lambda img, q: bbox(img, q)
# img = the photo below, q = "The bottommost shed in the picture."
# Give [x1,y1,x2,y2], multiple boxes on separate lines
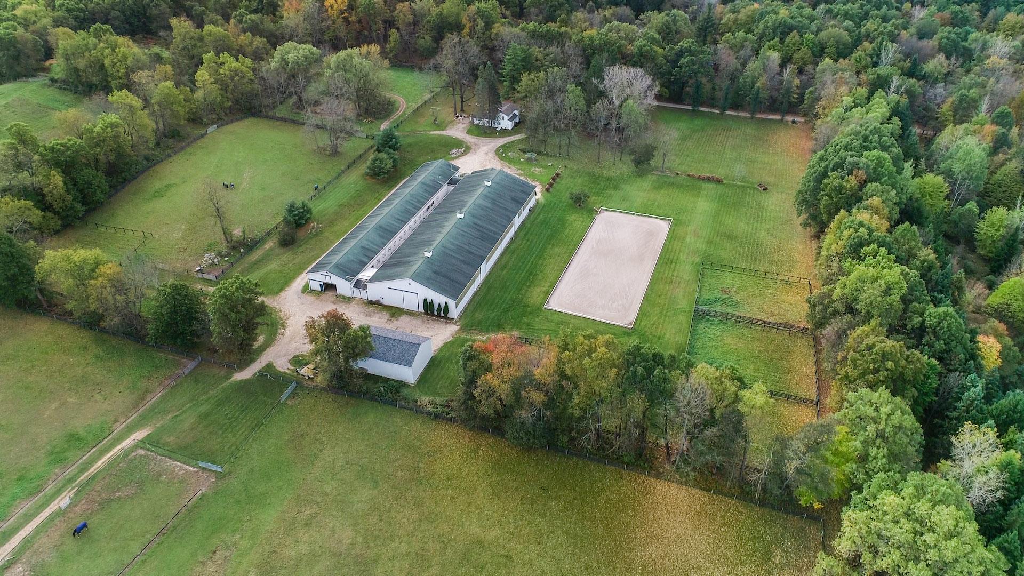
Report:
[353,324,433,384]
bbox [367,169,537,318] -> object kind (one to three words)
barn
